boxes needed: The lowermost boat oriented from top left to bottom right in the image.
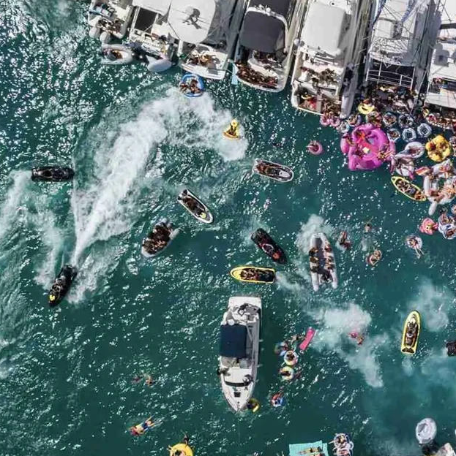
[249,225,282,263]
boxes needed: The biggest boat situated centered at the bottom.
[218,290,271,416]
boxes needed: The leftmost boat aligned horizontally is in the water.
[30,166,73,182]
